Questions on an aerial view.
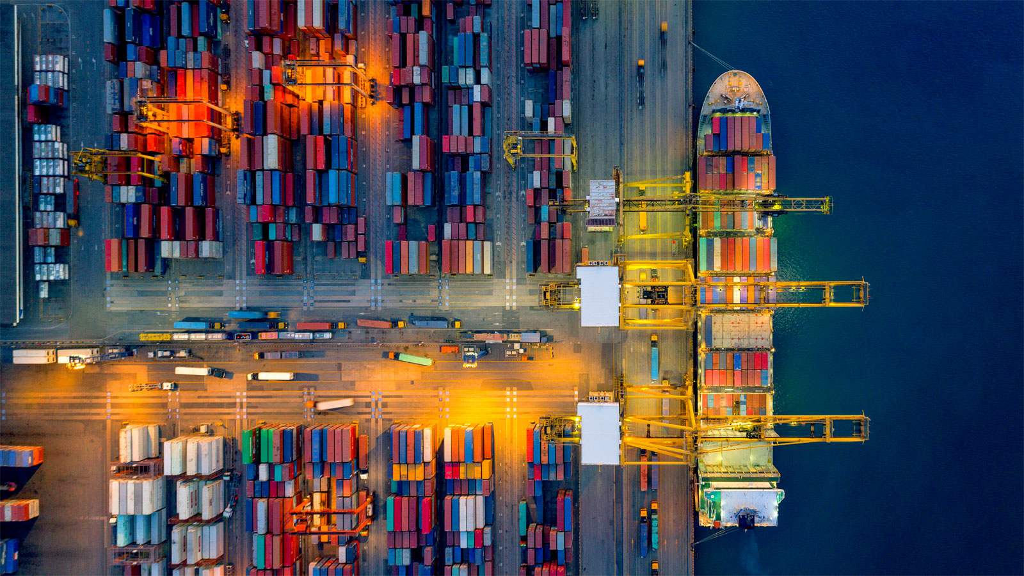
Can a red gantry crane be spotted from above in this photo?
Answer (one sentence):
Yes, there's a red gantry crane down there.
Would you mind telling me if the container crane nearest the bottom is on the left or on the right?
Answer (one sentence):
The container crane nearest the bottom is on the left side of the image.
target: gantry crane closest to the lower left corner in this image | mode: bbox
[287,488,375,536]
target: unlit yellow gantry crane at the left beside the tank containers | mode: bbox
[67,153,170,188]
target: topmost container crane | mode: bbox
[280,61,374,107]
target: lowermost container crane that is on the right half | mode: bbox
[534,370,868,466]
